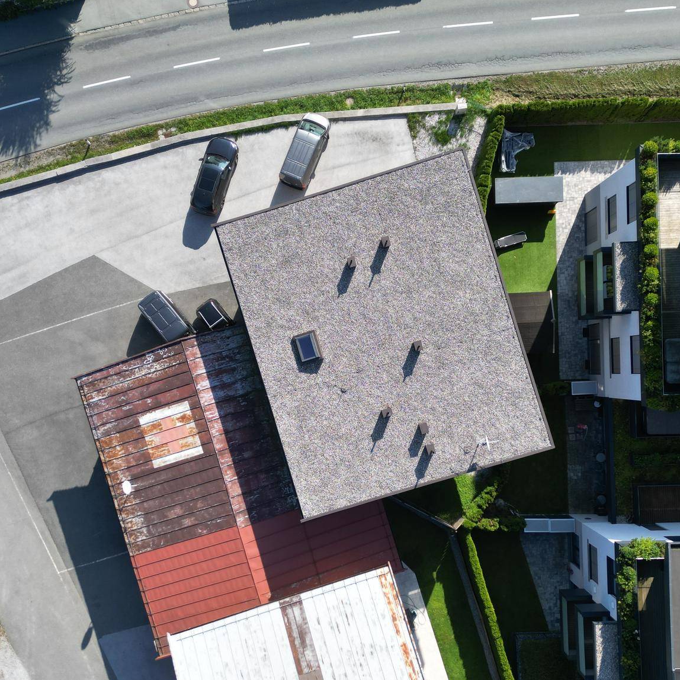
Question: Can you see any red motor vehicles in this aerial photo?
No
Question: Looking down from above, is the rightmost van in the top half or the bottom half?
top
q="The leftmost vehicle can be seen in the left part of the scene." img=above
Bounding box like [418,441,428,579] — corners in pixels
[139,290,201,346]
